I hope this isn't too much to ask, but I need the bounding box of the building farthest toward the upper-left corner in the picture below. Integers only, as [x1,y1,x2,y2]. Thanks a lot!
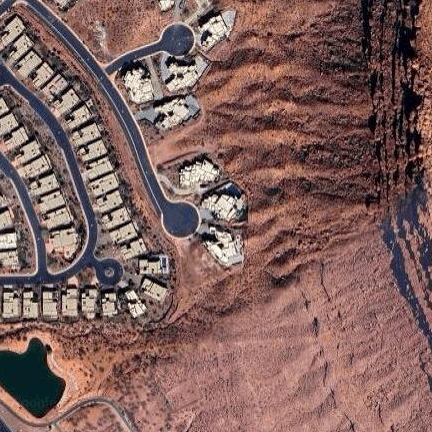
[0,17,27,45]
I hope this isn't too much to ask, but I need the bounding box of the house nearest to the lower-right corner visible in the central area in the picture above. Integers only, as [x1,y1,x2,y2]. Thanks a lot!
[197,223,248,272]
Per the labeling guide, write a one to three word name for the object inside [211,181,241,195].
swimming pool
